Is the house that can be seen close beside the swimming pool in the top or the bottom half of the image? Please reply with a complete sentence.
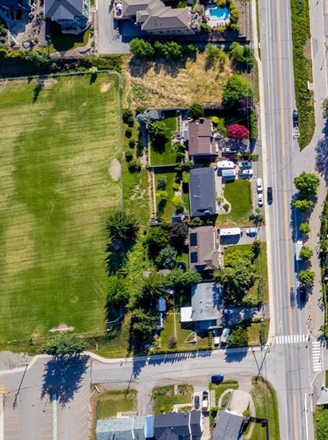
The house that can be seen close beside the swimming pool sits in the top half of the picture.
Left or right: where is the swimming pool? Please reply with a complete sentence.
You can find the swimming pool on the right side of the picture.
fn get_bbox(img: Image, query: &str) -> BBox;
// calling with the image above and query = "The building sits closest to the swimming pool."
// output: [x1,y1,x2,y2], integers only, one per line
[121,0,196,32]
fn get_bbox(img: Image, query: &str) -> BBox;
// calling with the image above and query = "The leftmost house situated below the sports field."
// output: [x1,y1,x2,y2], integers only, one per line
[94,417,146,440]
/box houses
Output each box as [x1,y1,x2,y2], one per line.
[214,411,245,440]
[189,168,218,216]
[181,282,224,328]
[188,226,221,271]
[0,0,34,11]
[187,119,214,155]
[94,417,146,440]
[152,411,202,440]
[45,0,92,23]
[121,0,196,32]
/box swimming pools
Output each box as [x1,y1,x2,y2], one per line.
[205,4,232,27]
